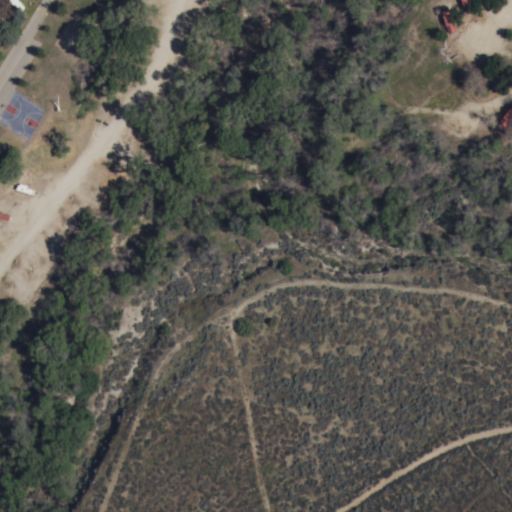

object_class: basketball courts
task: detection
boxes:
[0,92,45,136]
